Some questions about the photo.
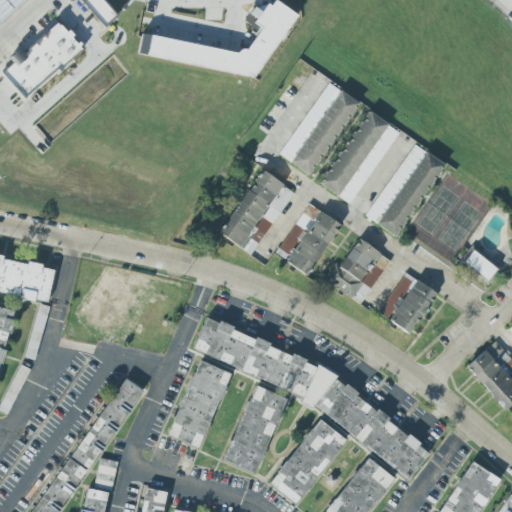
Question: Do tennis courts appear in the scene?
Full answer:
Yes, the photo shows a tennis court.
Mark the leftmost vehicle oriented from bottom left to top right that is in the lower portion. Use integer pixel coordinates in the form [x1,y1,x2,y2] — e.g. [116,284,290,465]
[25,478,44,500]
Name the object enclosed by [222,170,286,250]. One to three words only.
house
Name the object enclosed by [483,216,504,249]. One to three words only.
swimming pool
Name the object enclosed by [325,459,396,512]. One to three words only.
building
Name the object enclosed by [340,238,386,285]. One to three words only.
house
